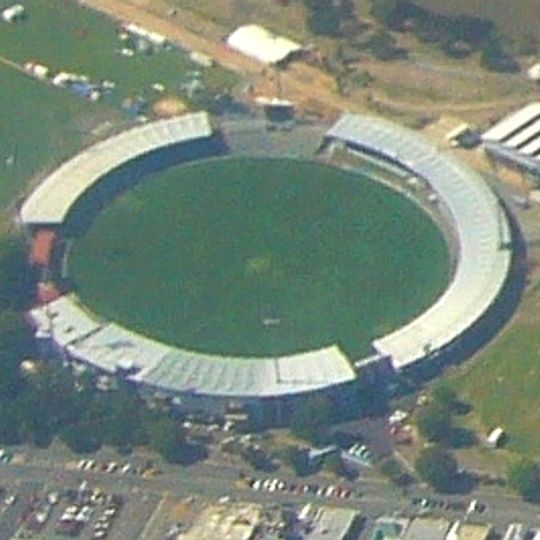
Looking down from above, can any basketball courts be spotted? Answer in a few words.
No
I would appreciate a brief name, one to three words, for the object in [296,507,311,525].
vehicle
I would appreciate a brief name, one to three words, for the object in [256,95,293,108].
shed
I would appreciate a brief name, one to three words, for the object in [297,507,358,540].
building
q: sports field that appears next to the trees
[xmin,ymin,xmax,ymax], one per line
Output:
[54,152,456,377]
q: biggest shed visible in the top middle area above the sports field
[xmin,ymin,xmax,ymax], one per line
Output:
[227,26,301,67]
